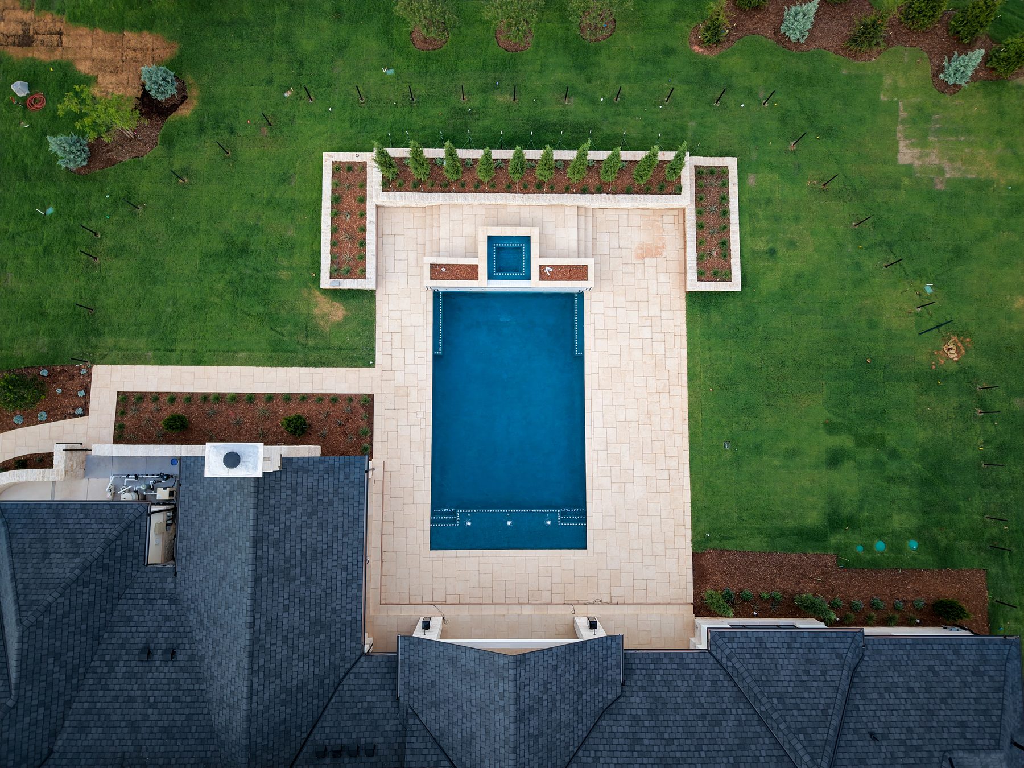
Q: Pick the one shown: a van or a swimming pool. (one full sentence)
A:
This aerial view contains a swimming pool.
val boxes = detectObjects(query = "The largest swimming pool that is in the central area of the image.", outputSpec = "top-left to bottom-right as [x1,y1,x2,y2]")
[431,294,586,550]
